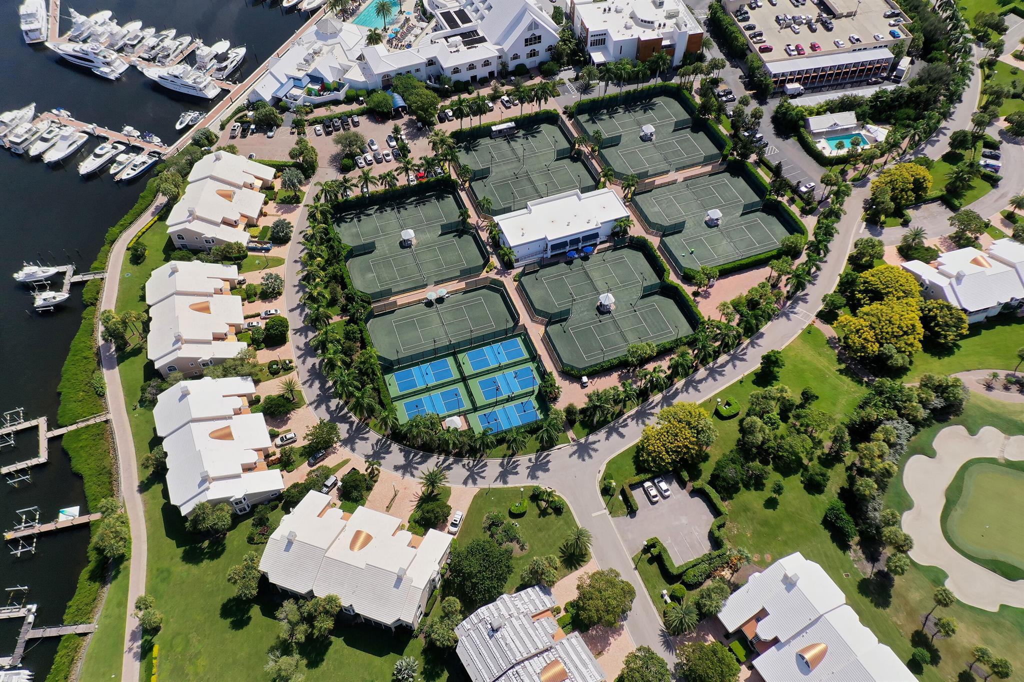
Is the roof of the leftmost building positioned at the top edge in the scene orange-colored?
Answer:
No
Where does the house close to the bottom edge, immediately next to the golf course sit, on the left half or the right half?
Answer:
right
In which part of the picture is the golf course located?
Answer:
bottom right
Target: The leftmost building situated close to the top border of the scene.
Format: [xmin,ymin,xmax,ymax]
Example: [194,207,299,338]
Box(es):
[258,14,378,105]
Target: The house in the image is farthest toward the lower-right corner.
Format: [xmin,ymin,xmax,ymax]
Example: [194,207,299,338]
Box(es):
[715,552,920,682]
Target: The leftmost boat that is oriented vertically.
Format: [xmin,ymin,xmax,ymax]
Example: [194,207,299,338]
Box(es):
[22,0,46,47]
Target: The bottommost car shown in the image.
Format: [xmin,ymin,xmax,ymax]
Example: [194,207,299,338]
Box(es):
[448,510,464,534]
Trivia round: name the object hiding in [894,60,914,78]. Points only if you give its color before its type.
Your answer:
white vehicle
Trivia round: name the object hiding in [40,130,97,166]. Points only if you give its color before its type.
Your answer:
white boat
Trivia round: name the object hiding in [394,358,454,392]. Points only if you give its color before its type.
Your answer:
blue sports court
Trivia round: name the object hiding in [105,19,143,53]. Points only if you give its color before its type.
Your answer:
white boat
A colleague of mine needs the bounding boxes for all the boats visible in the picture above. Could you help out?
[27,120,73,159]
[282,0,301,8]
[77,143,134,178]
[118,126,140,137]
[22,0,46,47]
[154,33,192,66]
[189,110,208,125]
[207,45,247,81]
[119,152,160,182]
[140,133,161,144]
[189,38,231,75]
[0,98,37,154]
[47,107,71,117]
[8,117,52,159]
[138,29,177,62]
[45,38,136,78]
[136,63,225,104]
[60,8,111,43]
[109,152,141,176]
[10,266,60,284]
[105,19,143,53]
[40,130,97,166]
[176,108,198,131]
[0,667,37,682]
[301,0,326,13]
[31,292,71,310]
[93,66,123,82]
[123,26,156,55]
[90,15,123,46]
